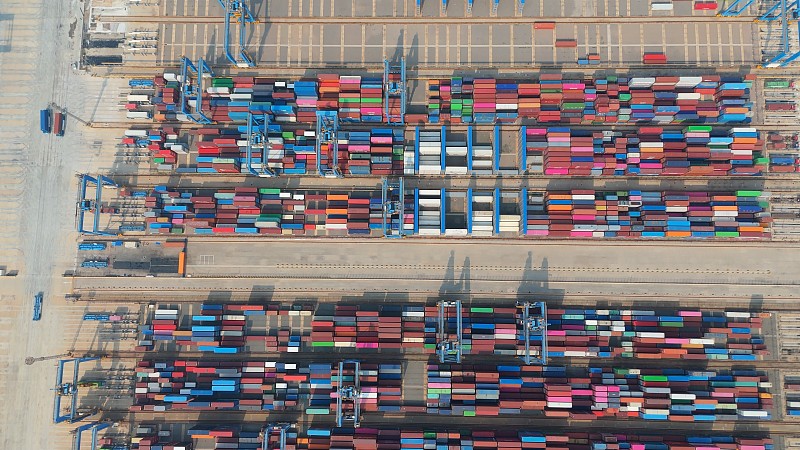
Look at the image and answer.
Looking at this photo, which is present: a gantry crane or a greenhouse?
gantry crane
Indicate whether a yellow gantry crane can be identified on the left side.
No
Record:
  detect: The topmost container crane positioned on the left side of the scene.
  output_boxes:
[221,0,261,67]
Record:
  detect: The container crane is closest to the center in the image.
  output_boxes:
[379,173,409,239]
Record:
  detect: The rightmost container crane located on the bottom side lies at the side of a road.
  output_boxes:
[512,301,548,366]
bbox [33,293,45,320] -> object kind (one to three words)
vehicle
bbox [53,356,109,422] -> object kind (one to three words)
container crane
